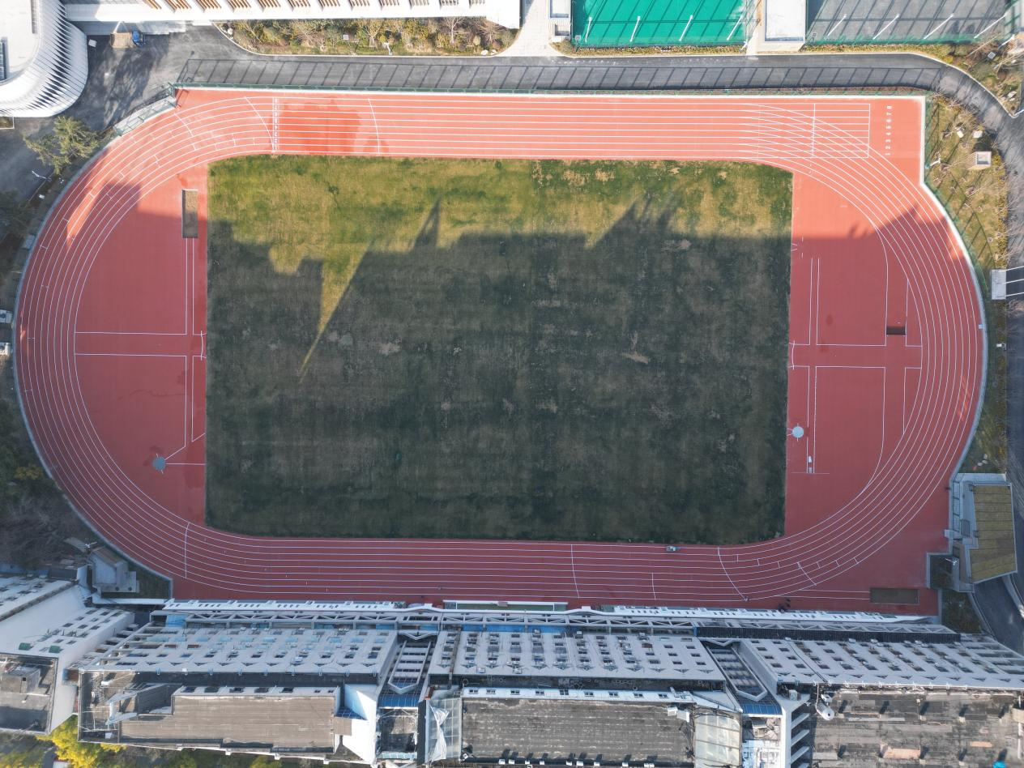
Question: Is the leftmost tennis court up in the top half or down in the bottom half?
top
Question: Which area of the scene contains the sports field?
center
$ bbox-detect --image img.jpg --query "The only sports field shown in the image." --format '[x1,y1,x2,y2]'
[205,153,795,547]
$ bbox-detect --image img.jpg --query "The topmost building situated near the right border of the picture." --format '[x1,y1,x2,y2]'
[943,472,1018,592]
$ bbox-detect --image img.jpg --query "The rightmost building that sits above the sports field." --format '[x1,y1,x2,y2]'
[756,0,806,52]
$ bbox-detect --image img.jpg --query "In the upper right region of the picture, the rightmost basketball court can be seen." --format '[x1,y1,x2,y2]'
[809,0,1008,44]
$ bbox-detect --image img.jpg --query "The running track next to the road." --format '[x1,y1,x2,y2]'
[12,86,988,626]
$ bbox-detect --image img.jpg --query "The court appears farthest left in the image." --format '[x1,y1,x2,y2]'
[573,0,756,43]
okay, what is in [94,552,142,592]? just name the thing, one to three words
house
